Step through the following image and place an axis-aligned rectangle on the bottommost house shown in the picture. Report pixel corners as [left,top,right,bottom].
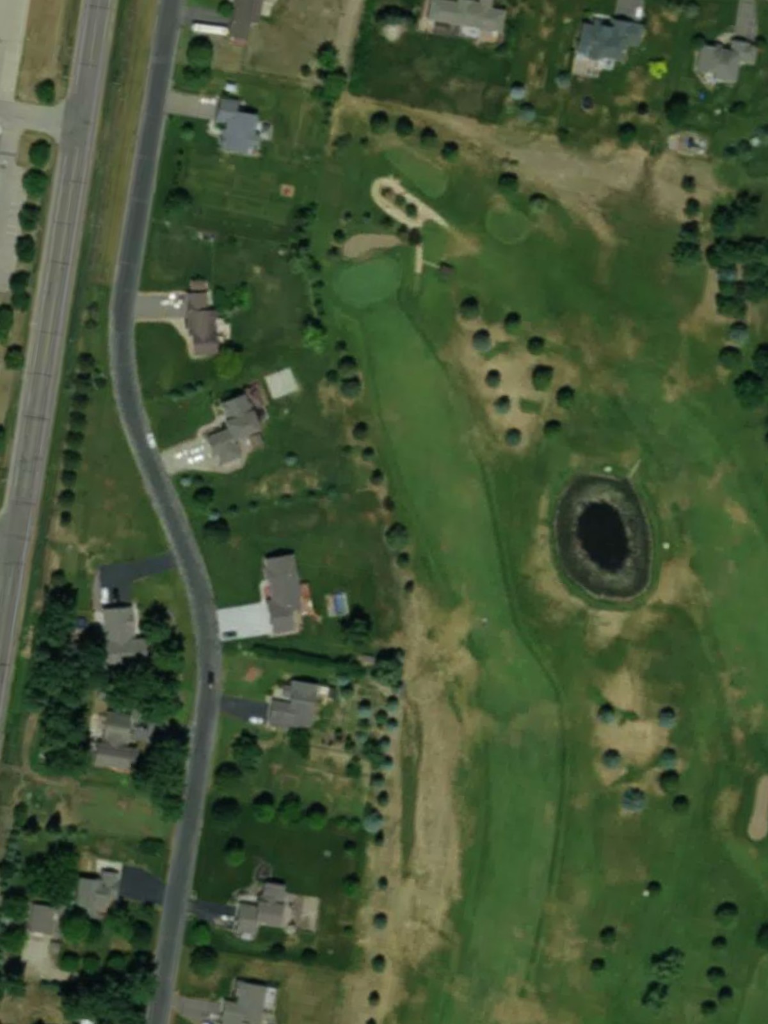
[220,981,277,1024]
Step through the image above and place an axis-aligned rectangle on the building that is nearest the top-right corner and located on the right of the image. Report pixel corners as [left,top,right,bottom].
[696,37,757,85]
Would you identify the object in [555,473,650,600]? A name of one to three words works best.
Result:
pond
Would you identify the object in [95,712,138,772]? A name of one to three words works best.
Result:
house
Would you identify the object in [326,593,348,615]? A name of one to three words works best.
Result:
swimming pool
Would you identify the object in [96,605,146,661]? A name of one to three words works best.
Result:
house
